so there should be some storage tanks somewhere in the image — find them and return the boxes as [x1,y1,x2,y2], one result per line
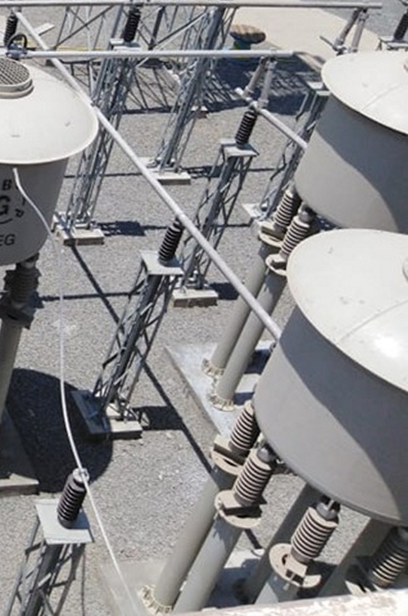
[258,309,408,518]
[297,90,408,234]
[0,159,70,262]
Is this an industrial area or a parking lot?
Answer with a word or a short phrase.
industrial area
